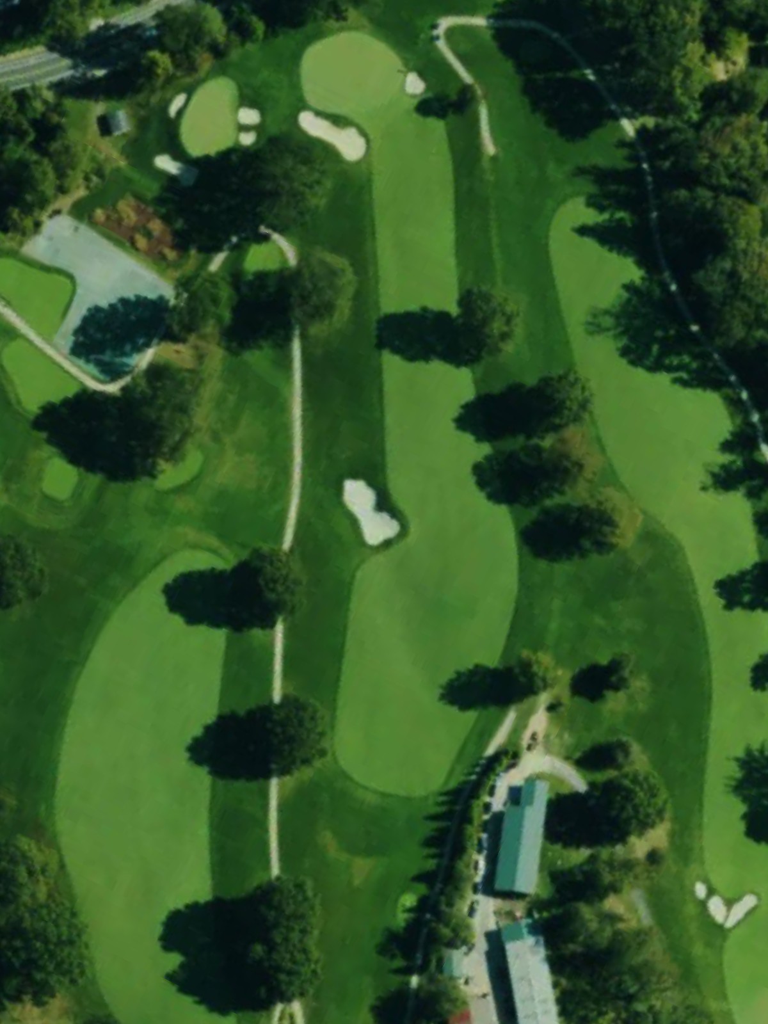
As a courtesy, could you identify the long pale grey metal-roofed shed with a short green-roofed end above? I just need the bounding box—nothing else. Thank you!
[504,920,558,1024]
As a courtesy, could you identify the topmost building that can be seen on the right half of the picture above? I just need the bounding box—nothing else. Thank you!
[494,779,549,895]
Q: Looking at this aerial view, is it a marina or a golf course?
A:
golf course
